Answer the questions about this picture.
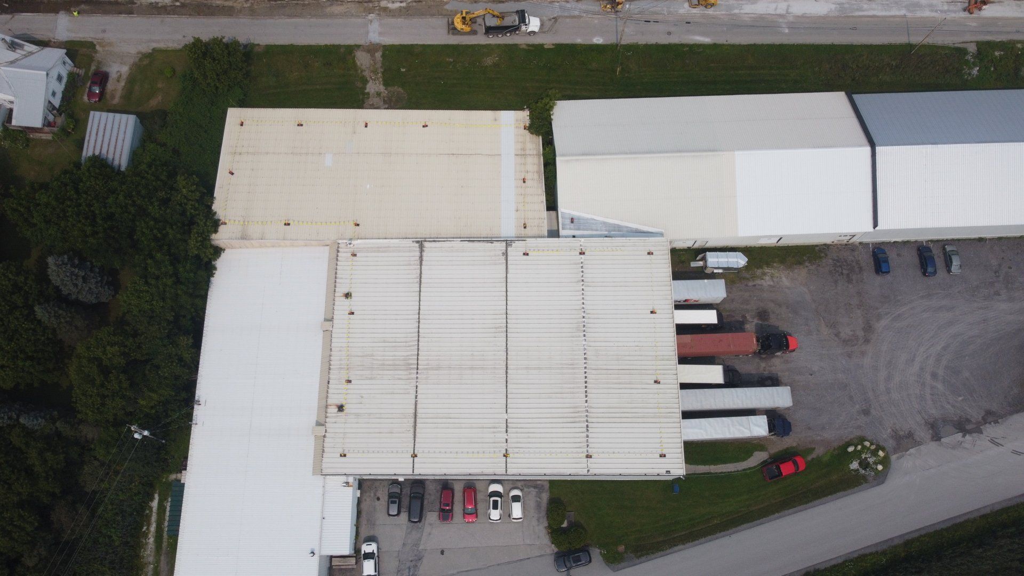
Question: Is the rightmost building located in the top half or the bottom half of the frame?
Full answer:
Seen from above, the rightmost building lies in the top half of the view.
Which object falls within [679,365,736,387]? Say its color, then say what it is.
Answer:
white truck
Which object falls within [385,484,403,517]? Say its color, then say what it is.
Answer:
gray car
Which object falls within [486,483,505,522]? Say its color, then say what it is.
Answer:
white car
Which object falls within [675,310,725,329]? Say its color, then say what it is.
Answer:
white vehicle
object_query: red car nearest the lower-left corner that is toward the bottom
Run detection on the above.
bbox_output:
[437,489,455,522]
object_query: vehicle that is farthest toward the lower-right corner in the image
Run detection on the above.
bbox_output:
[765,457,807,480]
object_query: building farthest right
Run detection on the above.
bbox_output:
[850,89,1024,243]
